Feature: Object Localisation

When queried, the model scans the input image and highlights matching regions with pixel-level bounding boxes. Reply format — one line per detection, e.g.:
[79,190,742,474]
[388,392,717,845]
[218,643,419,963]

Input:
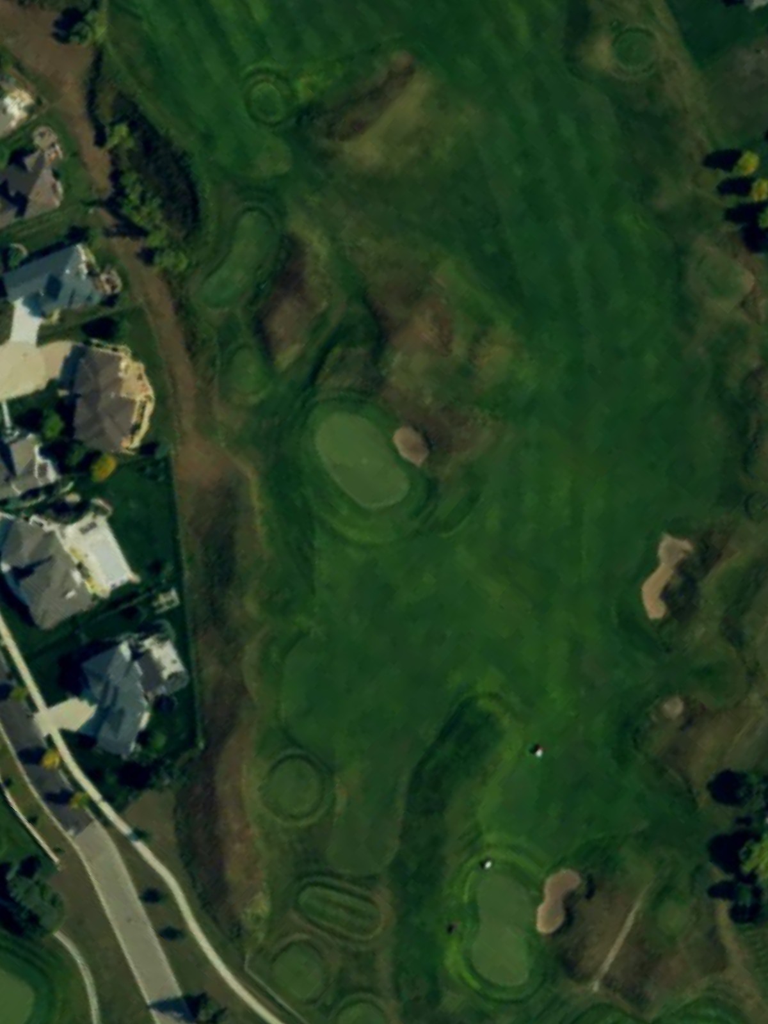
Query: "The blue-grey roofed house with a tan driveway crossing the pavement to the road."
[87,639,150,753]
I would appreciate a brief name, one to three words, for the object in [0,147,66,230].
house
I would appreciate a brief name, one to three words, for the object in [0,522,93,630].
house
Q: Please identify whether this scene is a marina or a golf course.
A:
golf course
